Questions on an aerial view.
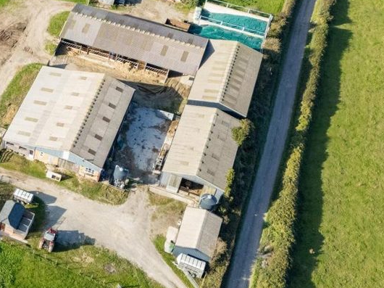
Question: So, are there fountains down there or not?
No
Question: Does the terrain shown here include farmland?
Yes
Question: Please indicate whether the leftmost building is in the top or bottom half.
bottom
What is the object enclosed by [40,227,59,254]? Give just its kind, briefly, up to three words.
work vehicle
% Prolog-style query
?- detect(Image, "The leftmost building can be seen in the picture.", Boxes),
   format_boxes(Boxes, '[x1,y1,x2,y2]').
[0,202,42,245]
